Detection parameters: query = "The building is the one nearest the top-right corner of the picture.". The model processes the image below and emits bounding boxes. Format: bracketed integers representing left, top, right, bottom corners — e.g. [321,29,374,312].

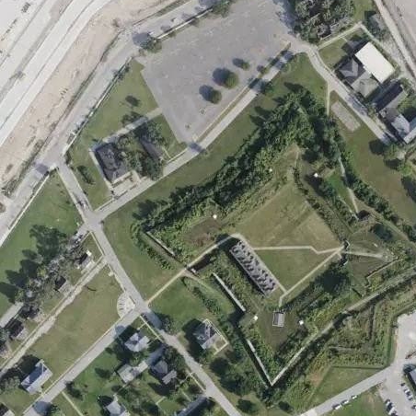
[353,41,394,83]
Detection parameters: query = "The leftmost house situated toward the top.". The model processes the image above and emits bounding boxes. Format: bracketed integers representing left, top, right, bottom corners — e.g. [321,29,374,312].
[94,143,128,181]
